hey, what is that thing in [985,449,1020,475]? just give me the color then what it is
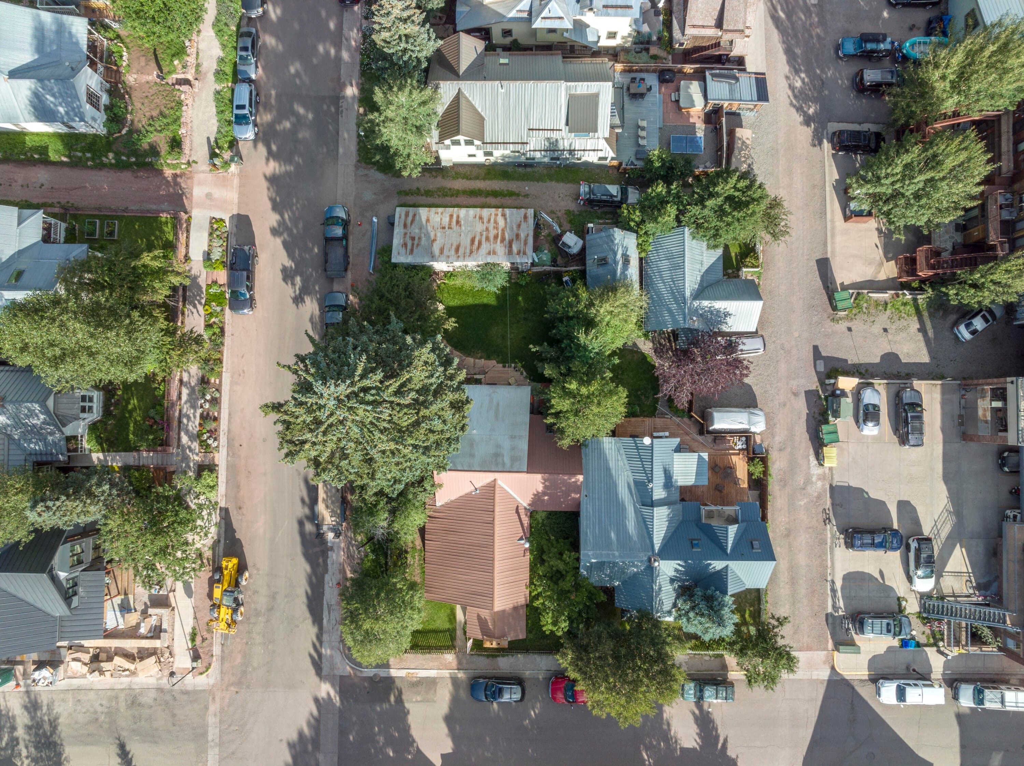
black car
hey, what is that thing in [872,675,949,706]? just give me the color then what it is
white vehicle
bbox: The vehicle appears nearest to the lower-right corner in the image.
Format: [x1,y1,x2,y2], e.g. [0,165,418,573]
[947,677,1024,710]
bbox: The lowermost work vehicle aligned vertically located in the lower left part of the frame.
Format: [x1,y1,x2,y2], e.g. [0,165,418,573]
[210,561,249,644]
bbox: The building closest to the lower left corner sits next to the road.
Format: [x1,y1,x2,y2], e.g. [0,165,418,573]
[0,523,121,658]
